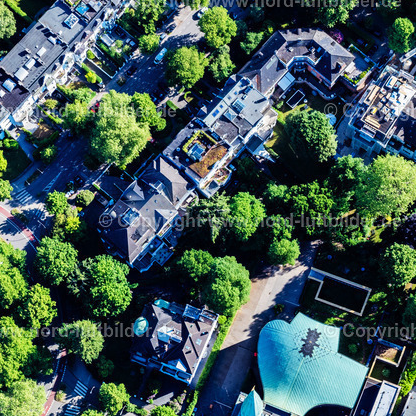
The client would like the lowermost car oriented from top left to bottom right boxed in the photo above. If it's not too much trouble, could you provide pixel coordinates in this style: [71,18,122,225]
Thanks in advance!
[95,195,111,209]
